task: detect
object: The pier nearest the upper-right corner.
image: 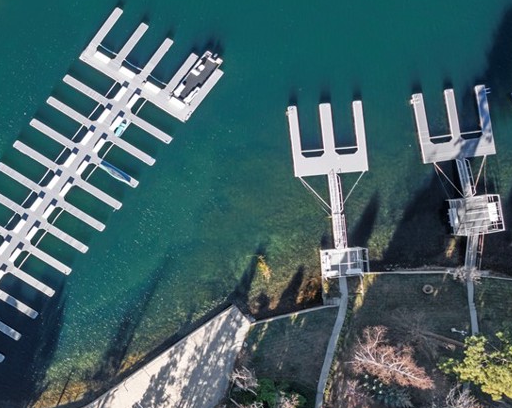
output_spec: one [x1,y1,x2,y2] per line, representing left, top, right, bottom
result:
[411,85,496,198]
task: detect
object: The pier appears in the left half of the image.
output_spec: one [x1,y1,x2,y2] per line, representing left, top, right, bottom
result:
[0,9,222,362]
